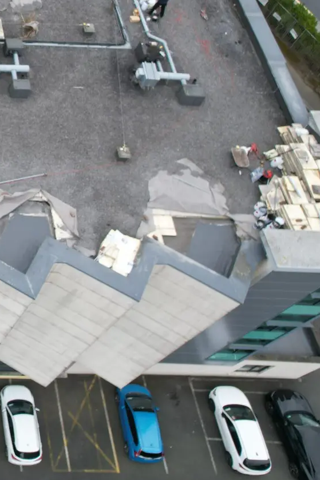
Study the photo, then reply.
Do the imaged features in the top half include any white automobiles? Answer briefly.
No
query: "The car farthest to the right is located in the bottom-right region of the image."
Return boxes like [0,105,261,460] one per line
[265,391,320,480]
